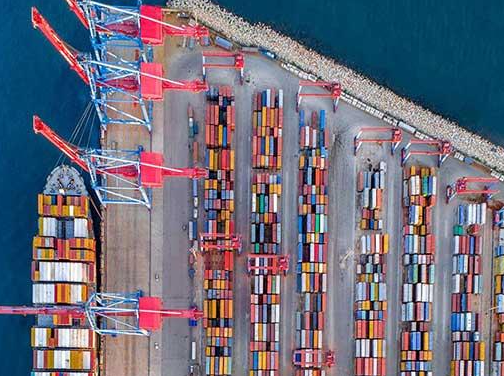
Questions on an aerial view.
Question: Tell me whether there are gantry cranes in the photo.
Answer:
Yes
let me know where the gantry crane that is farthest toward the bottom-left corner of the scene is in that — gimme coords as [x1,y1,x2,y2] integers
[0,295,204,343]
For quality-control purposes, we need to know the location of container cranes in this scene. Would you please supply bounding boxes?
[199,233,243,257]
[296,81,341,113]
[73,0,205,77]
[36,1,205,136]
[401,140,452,168]
[290,350,336,369]
[33,110,205,215]
[448,177,501,204]
[355,127,403,156]
[246,254,290,278]
[0,295,204,343]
